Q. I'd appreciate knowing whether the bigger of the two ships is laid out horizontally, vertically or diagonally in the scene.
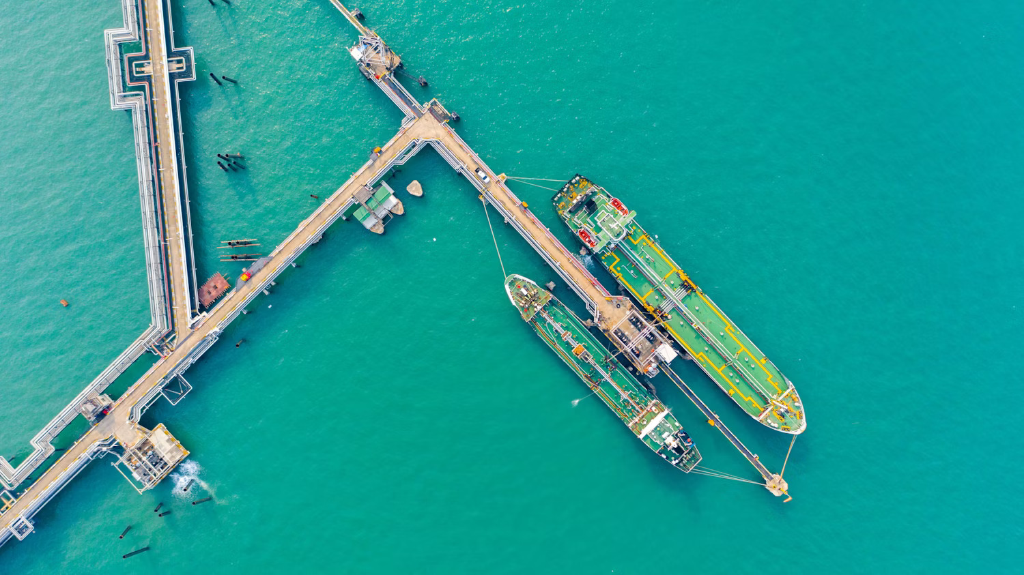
diagonally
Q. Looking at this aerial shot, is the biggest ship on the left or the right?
right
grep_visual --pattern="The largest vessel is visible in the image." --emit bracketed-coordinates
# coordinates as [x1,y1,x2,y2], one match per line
[551,174,806,435]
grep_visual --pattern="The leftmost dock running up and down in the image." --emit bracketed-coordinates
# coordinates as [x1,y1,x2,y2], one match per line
[125,0,207,357]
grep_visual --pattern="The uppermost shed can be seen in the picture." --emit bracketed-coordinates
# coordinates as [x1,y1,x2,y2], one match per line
[351,180,399,230]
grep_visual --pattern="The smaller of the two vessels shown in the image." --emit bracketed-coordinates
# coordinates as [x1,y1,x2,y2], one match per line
[505,274,702,473]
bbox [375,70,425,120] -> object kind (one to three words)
pier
